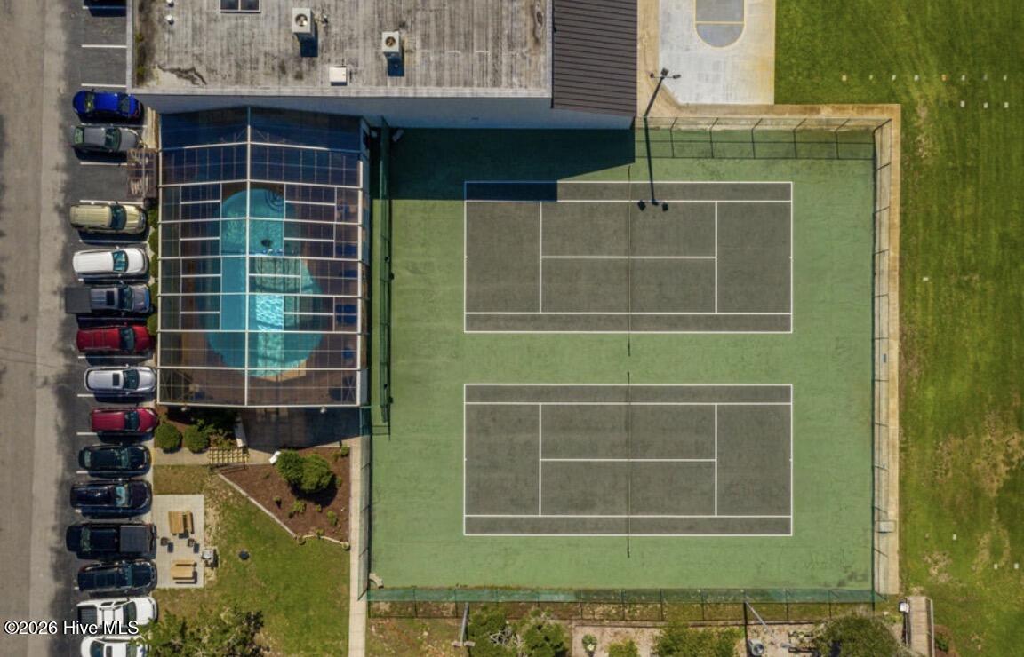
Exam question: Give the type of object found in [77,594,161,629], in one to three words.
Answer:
truck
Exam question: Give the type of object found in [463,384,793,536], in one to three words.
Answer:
tennis court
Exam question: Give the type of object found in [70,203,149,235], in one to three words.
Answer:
car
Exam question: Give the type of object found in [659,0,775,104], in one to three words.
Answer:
basketball court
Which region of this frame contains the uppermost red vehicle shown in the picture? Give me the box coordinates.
[79,323,155,355]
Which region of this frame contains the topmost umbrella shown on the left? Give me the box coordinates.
[340,304,360,323]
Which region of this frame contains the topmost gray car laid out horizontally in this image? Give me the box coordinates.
[71,123,142,153]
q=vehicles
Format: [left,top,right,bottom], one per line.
[73,480,155,511]
[74,247,150,278]
[85,365,157,395]
[82,0,129,10]
[66,522,160,555]
[79,323,155,355]
[93,405,160,436]
[80,444,154,473]
[81,559,160,592]
[71,123,142,153]
[81,634,156,657]
[65,284,153,316]
[70,203,149,235]
[77,594,161,629]
[74,89,146,120]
